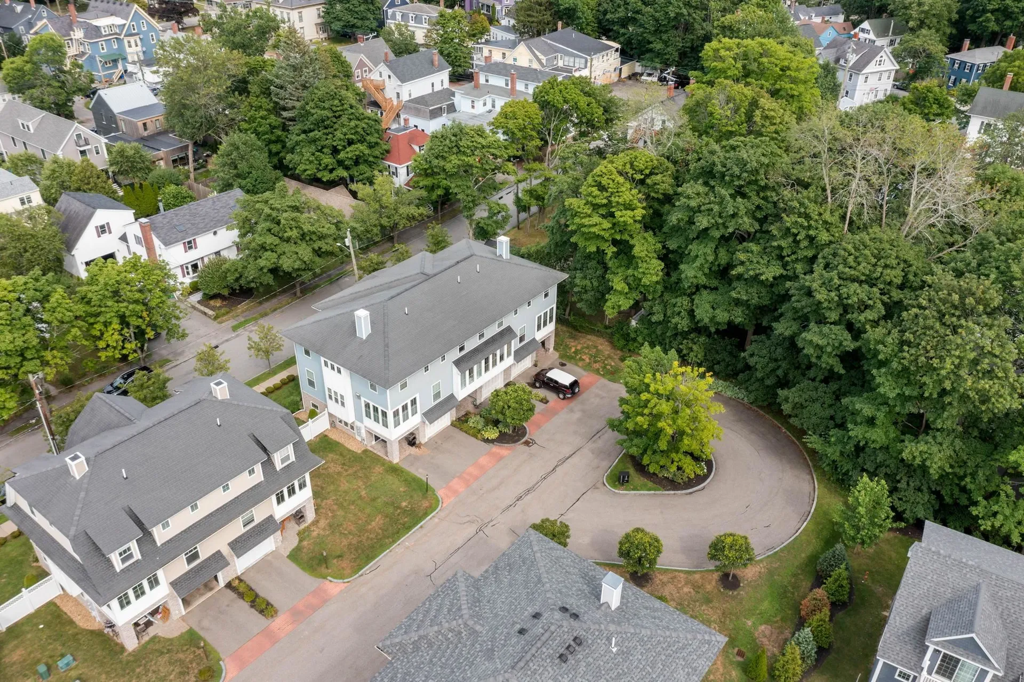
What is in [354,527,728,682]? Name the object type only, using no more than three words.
house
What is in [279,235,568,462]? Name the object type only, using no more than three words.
house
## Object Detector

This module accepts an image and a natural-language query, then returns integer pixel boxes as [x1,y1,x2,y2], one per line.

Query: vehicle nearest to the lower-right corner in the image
[530,369,584,401]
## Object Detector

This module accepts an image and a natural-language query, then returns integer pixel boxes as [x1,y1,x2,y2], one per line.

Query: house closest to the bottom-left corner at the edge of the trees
[0,371,326,650]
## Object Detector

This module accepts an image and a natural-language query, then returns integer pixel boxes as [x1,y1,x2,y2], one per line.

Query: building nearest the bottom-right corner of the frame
[875,521,1024,682]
